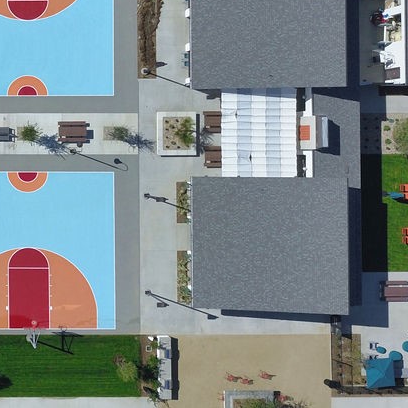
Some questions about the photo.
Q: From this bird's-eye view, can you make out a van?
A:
No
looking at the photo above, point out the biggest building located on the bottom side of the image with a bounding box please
[184,174,350,317]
